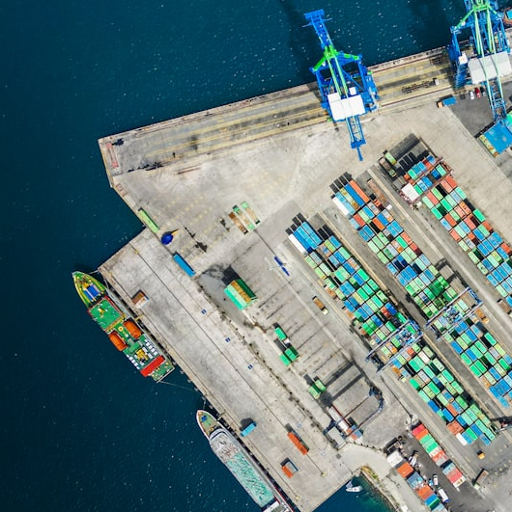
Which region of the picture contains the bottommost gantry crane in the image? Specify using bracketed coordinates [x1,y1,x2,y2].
[329,384,384,443]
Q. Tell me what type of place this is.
port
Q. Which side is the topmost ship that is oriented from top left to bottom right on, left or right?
left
